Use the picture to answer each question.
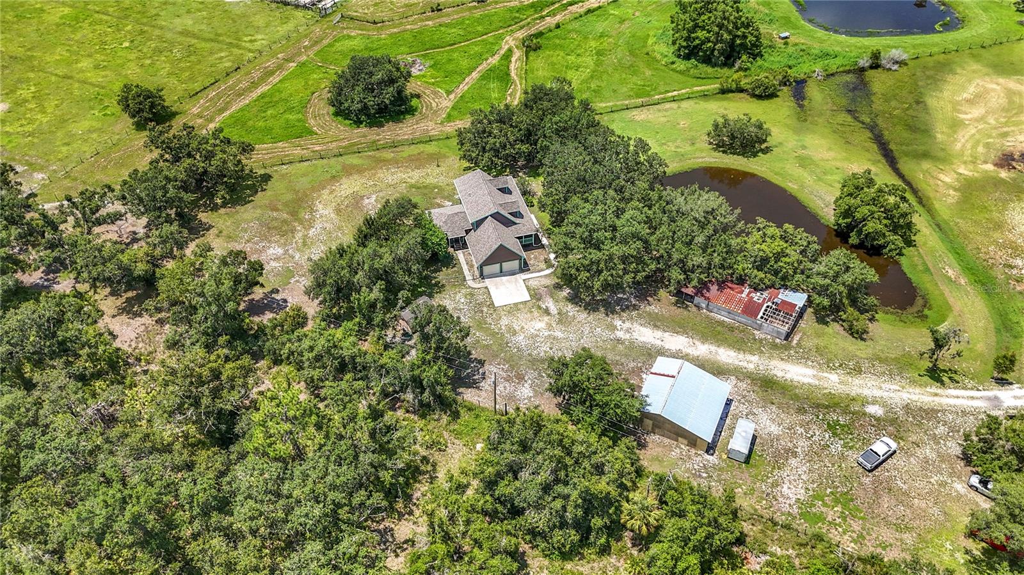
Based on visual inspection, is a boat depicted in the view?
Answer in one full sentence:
No, this view has no boat in it.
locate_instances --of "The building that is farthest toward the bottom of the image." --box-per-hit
[640,358,730,453]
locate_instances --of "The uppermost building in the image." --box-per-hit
[425,169,545,277]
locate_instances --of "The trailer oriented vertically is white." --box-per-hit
[726,417,754,463]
